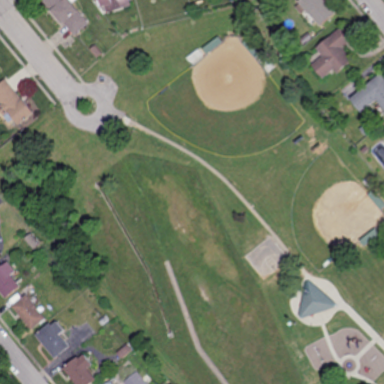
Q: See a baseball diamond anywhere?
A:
Yes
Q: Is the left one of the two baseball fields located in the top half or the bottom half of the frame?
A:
top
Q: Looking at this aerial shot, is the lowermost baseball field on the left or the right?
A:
right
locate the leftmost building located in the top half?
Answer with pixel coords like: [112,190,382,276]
[0,76,34,126]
